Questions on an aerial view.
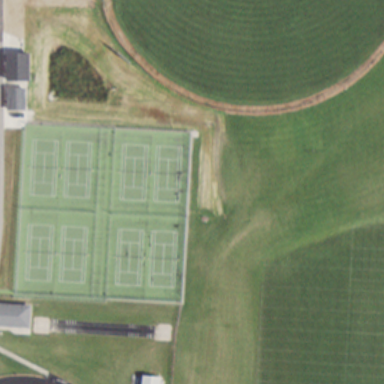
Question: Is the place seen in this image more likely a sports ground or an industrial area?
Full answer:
This image shows a sports ground.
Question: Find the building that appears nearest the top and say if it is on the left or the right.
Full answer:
It is on the left.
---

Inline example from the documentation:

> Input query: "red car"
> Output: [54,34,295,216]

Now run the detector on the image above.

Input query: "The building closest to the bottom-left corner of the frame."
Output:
[0,302,32,328]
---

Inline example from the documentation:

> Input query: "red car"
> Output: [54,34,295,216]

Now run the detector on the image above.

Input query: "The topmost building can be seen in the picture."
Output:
[6,52,30,81]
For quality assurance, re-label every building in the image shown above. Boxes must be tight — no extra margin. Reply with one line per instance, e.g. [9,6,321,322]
[6,52,30,81]
[6,85,26,110]
[140,374,161,384]
[0,302,32,328]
